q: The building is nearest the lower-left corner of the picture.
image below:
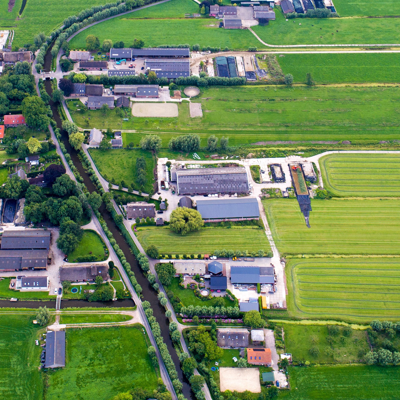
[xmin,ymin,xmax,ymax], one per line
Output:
[46,331,67,370]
